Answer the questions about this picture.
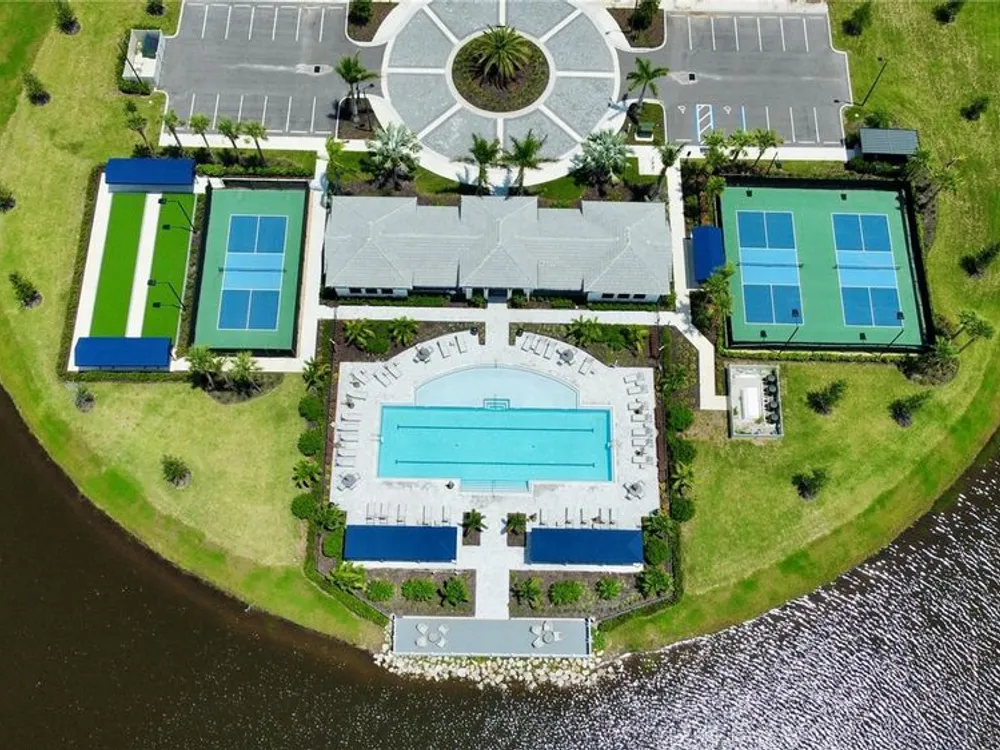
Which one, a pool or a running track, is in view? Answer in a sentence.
The one in the frame is a pool.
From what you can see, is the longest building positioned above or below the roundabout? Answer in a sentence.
The longest building is located below the roundabout in this view.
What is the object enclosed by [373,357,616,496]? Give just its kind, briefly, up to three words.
swimming pool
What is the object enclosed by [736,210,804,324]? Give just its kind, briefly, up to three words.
sports court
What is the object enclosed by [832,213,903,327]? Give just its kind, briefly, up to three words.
sports court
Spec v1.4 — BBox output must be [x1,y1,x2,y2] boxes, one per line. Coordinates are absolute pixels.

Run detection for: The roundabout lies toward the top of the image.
[383,0,619,174]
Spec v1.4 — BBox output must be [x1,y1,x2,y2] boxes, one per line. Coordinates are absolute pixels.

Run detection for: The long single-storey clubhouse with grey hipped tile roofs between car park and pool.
[323,195,671,304]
